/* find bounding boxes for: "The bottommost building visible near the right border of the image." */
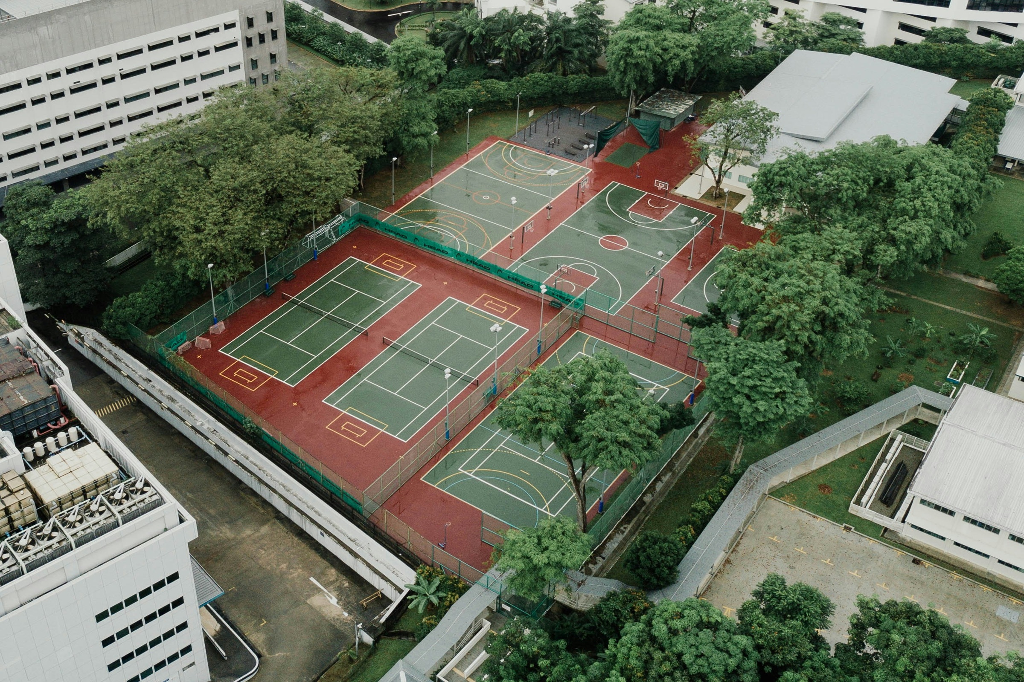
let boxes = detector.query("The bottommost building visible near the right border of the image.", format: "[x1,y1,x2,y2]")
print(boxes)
[896,389,1024,587]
